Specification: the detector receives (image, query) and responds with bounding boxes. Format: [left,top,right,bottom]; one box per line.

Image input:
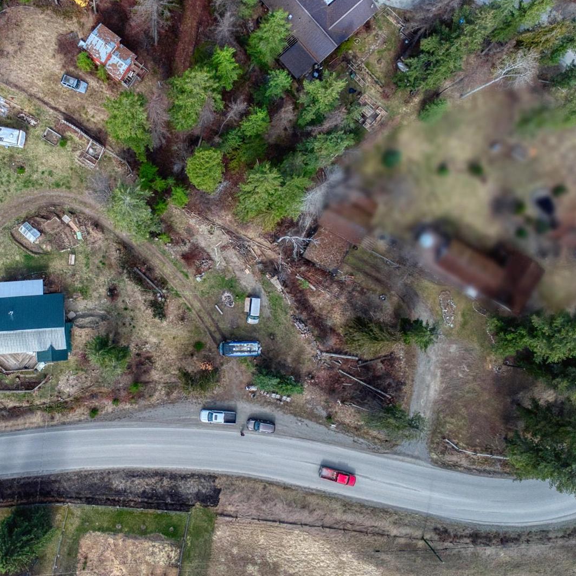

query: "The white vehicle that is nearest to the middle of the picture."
[245,295,260,324]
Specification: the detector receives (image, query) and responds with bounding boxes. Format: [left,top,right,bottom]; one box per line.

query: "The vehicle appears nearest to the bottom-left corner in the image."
[198,408,236,425]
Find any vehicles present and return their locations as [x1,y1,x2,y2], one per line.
[198,408,236,425]
[218,339,262,357]
[317,465,355,486]
[0,127,27,150]
[245,295,260,324]
[245,418,275,433]
[60,75,88,94]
